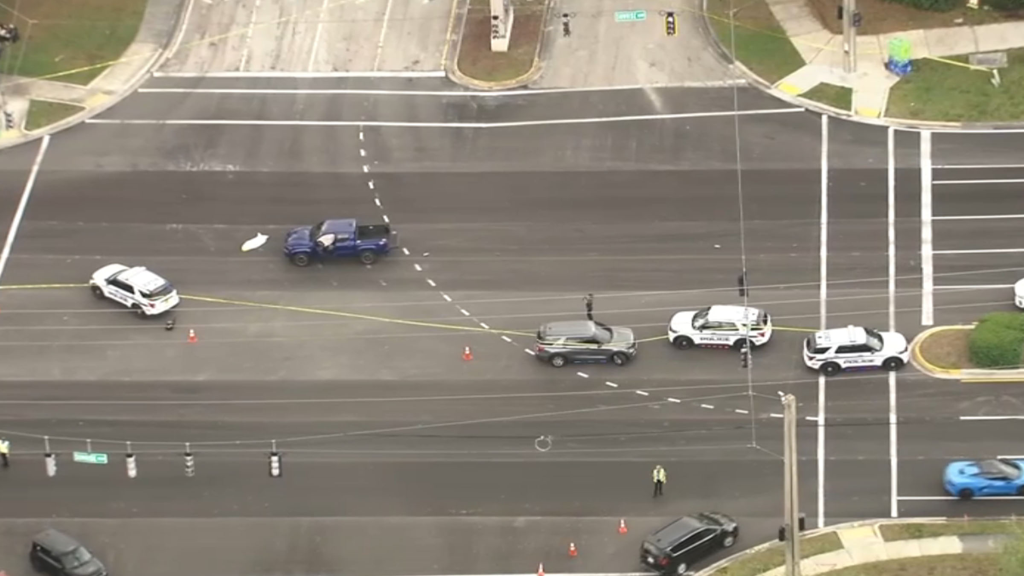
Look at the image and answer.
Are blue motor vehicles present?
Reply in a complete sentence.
Yes, I can see a blue motor vehicle in this picture.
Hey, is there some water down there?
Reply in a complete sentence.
No, the scene doesn't show any water.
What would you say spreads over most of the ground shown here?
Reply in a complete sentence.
Most of the picture is covered by paved ground.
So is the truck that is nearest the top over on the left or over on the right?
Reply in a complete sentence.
The truck that is nearest the top sits on the left side.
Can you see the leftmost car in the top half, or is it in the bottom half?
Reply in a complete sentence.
The bottom half of the photo is where the leftmost car is.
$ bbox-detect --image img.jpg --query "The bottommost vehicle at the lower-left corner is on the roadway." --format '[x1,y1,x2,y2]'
[31,527,115,576]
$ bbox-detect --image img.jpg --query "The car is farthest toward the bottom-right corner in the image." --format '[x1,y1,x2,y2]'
[940,458,1024,499]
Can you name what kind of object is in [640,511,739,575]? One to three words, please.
car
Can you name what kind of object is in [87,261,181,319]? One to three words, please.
car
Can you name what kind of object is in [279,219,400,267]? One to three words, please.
truck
